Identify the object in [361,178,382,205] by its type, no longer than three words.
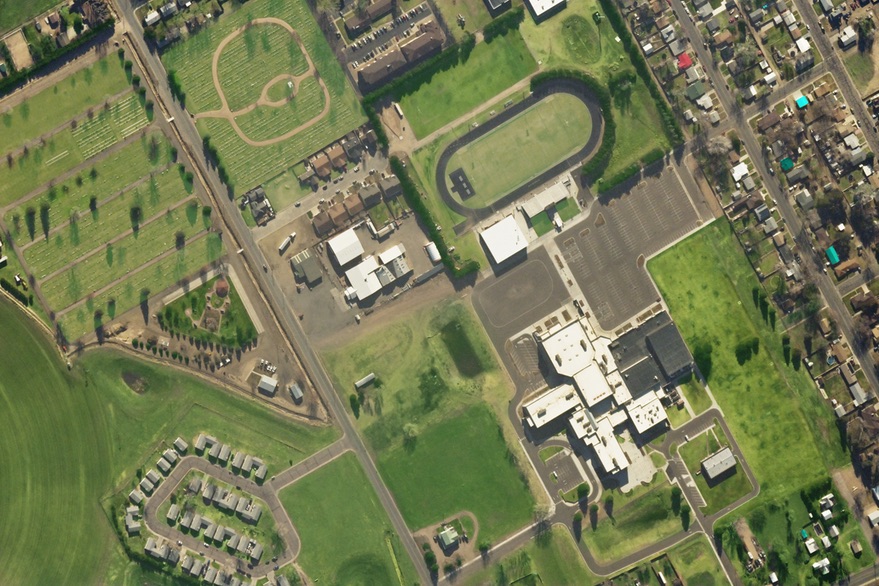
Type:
house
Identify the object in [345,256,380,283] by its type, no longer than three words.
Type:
building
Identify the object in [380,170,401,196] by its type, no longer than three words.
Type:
house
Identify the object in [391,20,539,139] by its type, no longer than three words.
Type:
sports field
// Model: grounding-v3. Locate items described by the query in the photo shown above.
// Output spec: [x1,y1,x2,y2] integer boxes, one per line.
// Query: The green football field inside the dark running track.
[446,94,591,207]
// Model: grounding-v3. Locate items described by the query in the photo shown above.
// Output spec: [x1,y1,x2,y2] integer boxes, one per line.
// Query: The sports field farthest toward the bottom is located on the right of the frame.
[646,219,838,500]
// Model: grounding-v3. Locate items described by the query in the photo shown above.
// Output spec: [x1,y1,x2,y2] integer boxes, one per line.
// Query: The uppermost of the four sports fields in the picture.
[563,16,601,63]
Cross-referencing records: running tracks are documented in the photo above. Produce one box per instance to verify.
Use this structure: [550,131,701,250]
[436,85,601,216]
